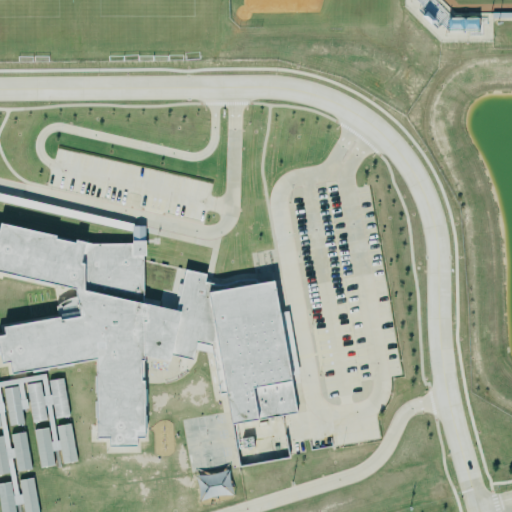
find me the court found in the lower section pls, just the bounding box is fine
[184,414,232,472]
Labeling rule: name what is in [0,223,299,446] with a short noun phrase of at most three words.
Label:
building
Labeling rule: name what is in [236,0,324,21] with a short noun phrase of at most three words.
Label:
baseball field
